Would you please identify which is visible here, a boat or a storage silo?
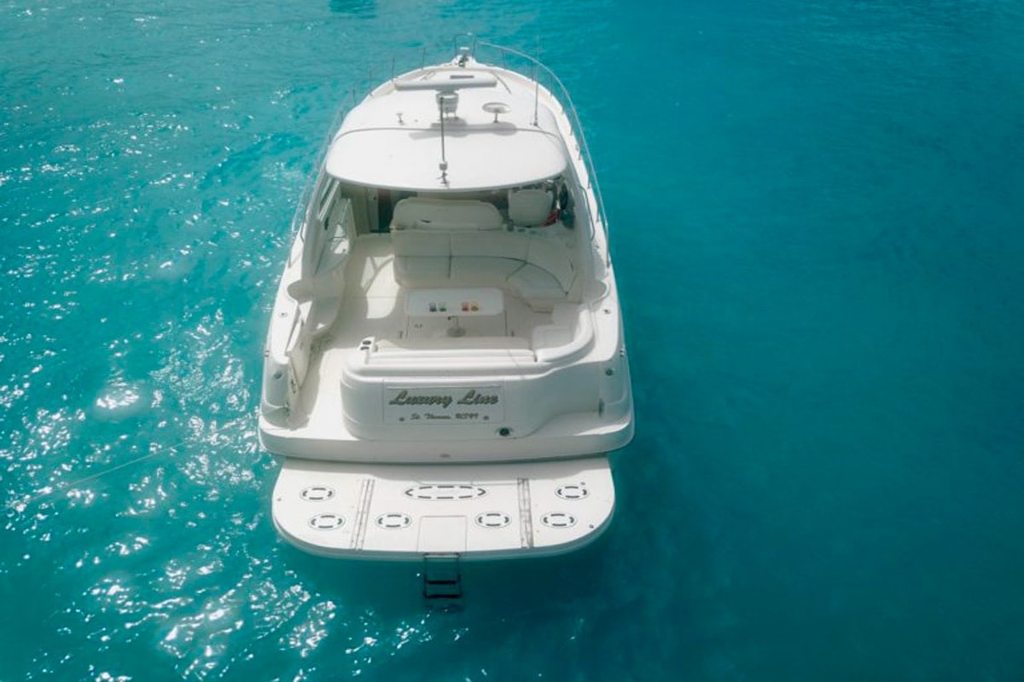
boat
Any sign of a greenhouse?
No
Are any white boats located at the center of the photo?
Yes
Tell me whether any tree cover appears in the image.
No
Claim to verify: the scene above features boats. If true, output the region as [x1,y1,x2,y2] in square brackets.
[260,27,632,598]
